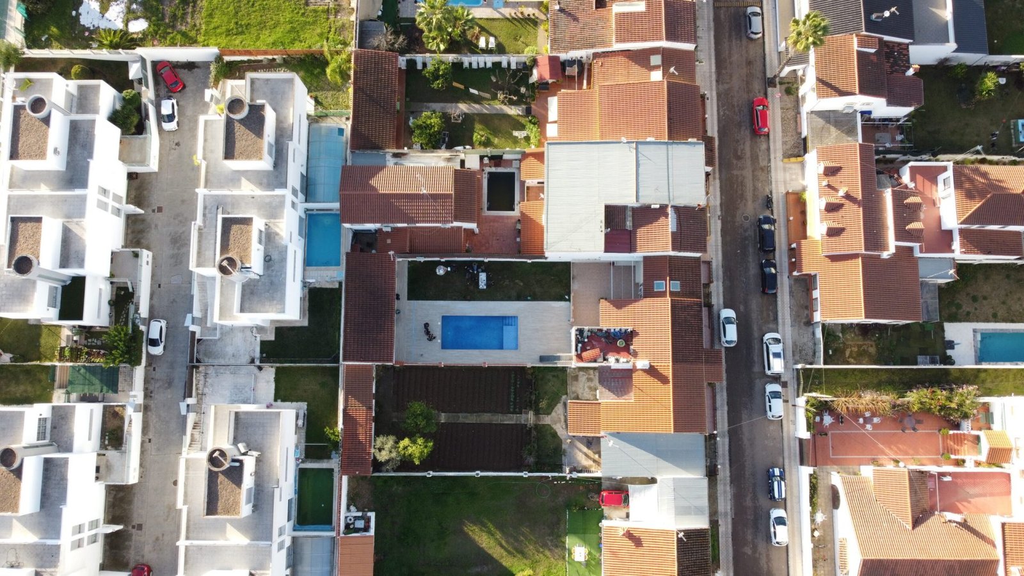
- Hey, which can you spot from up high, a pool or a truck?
pool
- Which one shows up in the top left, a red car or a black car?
red car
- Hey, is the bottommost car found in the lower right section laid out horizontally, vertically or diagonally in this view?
vertically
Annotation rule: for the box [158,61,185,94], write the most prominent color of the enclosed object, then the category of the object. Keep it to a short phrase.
red car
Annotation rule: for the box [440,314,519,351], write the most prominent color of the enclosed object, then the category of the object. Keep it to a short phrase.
blue swimming pool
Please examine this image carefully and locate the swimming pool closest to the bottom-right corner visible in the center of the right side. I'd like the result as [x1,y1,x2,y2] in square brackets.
[969,327,1024,365]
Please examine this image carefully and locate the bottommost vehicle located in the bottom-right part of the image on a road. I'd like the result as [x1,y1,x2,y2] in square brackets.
[767,505,789,548]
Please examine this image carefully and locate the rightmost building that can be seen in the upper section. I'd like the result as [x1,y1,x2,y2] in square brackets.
[889,161,1024,259]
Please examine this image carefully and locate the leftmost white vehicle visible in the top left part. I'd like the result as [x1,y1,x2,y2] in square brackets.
[159,97,180,131]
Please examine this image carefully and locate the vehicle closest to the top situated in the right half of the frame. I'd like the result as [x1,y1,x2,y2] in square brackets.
[744,8,764,40]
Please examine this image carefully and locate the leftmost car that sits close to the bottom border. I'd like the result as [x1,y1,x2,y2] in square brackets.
[130,556,153,576]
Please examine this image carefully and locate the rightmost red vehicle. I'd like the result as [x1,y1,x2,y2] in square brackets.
[750,98,771,135]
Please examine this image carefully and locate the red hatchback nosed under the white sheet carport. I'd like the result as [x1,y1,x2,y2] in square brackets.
[597,489,630,509]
